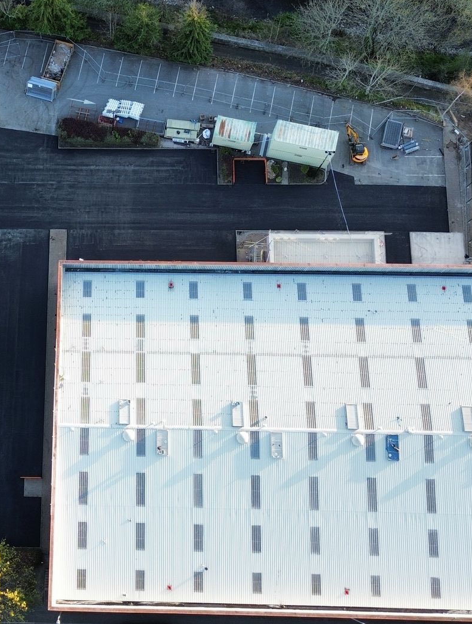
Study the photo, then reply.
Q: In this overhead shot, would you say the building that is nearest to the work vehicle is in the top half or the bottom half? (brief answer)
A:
top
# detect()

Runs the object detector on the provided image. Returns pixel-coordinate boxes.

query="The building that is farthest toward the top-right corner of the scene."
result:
[267,119,339,166]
